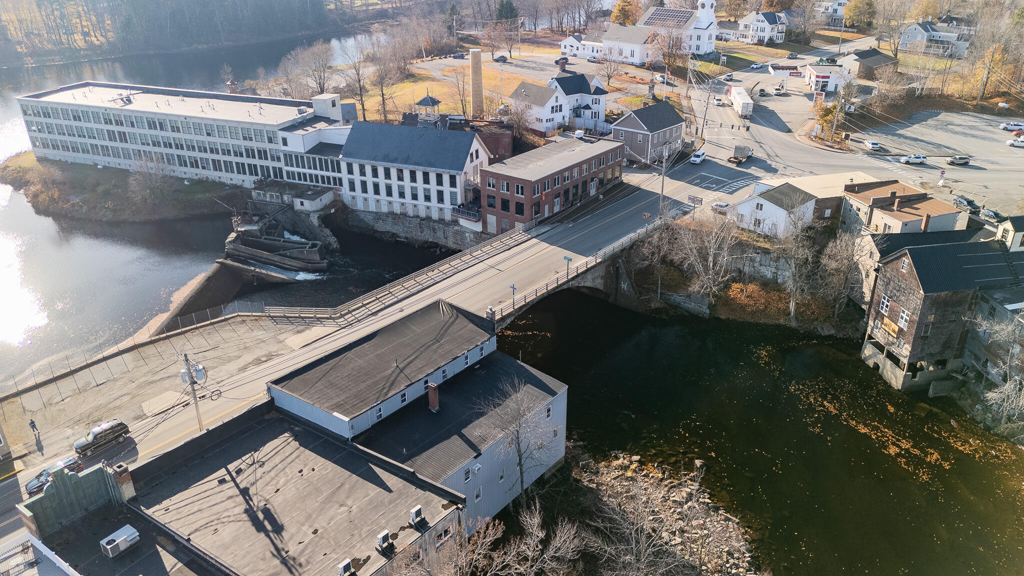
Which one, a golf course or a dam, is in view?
dam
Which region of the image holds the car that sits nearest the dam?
bottom left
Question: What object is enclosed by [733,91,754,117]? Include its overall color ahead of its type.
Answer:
white truck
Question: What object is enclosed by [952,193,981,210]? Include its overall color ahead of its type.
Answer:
gray car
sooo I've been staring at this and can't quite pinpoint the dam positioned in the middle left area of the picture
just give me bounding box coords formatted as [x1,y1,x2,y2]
[149,259,303,334]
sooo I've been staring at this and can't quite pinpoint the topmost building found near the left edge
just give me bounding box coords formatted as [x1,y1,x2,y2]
[18,77,344,192]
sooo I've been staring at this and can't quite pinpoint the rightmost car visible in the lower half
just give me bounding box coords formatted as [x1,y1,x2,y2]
[66,419,134,464]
